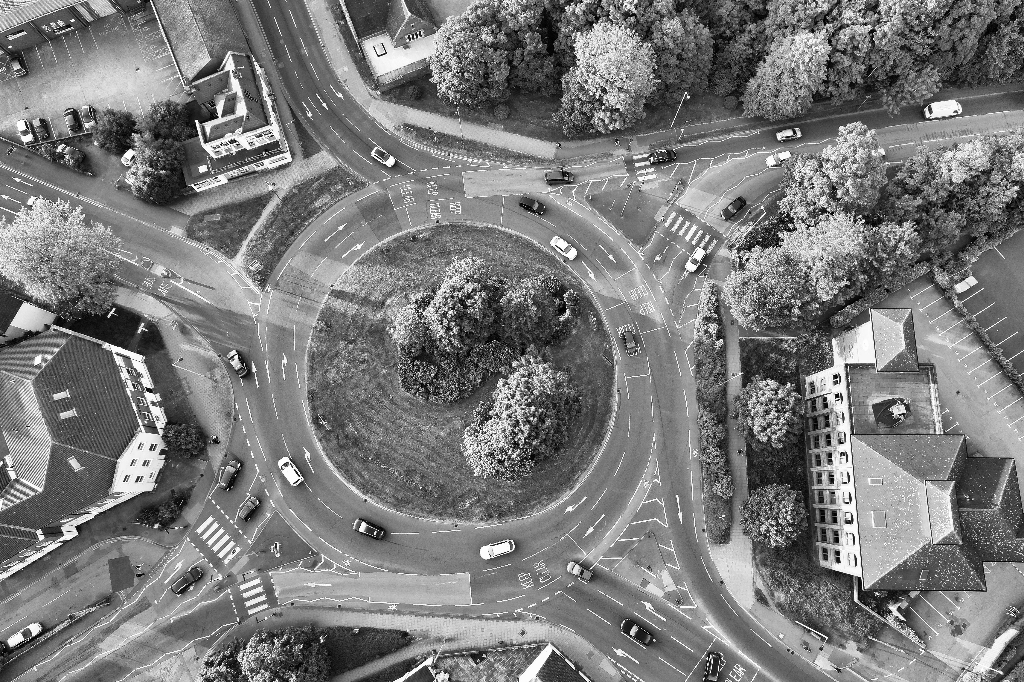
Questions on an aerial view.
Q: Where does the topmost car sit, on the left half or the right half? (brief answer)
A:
left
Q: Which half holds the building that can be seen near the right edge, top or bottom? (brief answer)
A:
bottom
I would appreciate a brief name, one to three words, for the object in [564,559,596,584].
car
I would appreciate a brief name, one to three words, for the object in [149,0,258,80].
building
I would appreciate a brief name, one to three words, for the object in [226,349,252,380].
car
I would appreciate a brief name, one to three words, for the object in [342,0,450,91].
building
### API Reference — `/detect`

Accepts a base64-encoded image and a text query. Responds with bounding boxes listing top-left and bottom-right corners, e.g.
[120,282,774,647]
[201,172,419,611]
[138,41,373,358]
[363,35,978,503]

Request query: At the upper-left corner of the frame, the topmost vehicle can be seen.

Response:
[7,51,30,79]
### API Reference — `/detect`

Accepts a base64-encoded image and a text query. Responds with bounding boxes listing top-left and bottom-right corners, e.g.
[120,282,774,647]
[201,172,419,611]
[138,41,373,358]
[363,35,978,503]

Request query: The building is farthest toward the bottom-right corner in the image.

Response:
[803,308,1024,593]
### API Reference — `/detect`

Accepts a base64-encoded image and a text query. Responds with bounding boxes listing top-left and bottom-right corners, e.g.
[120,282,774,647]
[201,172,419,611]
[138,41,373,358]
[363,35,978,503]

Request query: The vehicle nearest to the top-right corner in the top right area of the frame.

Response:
[922,98,964,120]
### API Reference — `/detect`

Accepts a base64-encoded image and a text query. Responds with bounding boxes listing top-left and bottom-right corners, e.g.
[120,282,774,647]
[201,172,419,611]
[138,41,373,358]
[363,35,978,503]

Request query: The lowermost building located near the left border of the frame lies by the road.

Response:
[0,328,168,580]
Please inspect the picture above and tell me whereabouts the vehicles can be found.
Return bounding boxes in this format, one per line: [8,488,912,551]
[278,455,305,488]
[518,195,547,216]
[351,518,387,542]
[80,103,96,131]
[118,145,142,168]
[169,565,206,597]
[718,194,749,222]
[209,438,220,446]
[647,148,679,166]
[881,148,888,157]
[775,126,803,144]
[217,458,244,493]
[8,620,44,651]
[479,539,518,560]
[369,145,397,169]
[765,149,794,169]
[235,491,264,527]
[548,234,579,261]
[7,51,30,79]
[922,98,964,120]
[618,616,656,649]
[226,349,252,380]
[682,244,709,274]
[544,169,574,186]
[564,559,596,584]
[620,328,639,358]
[30,115,52,136]
[15,116,37,146]
[62,105,82,130]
